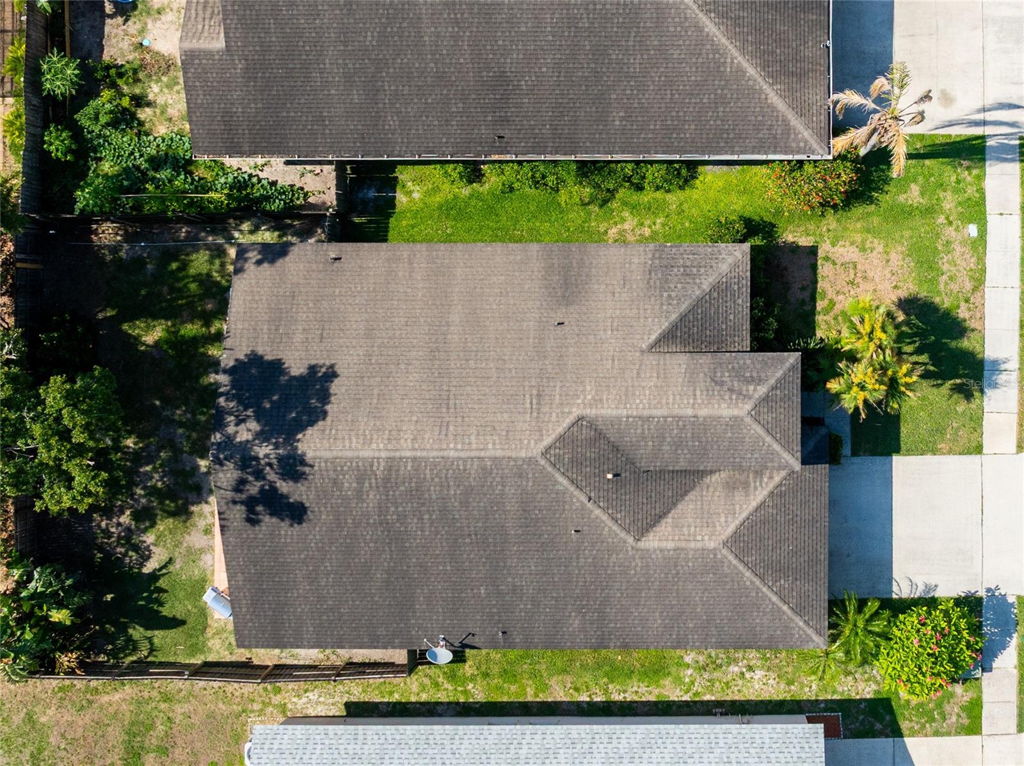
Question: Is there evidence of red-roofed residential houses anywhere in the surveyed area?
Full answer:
No, I can't see a single red-roofed residential house in this photo.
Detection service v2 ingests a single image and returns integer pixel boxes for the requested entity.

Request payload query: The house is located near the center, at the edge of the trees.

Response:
[209,241,828,651]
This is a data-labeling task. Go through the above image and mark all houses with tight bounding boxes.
[209,241,828,651]
[249,707,829,766]
[178,0,832,163]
